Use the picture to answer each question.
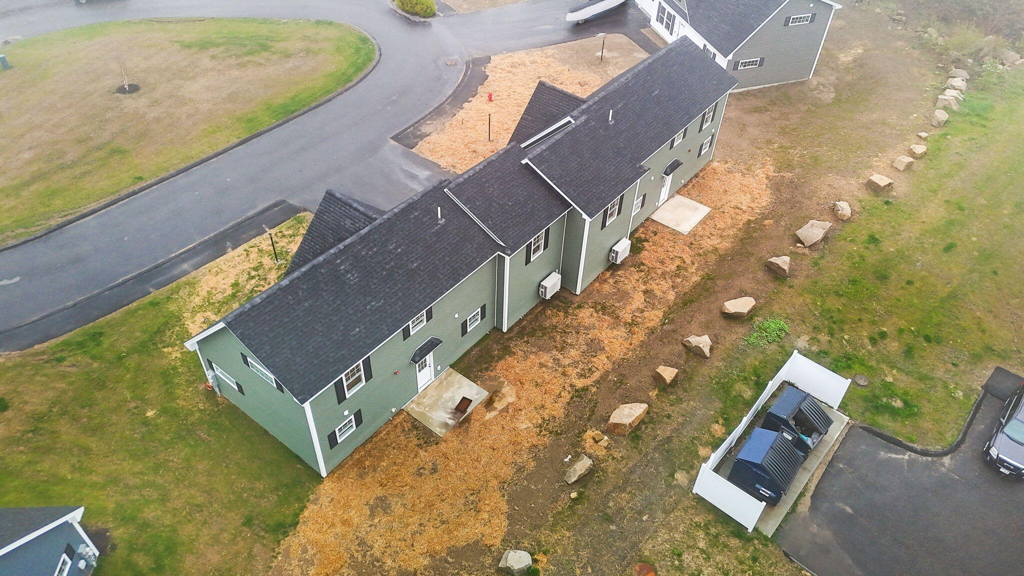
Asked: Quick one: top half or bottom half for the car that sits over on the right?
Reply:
bottom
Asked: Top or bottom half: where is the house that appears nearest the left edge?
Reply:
bottom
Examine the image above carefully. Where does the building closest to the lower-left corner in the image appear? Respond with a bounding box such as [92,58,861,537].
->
[0,505,100,576]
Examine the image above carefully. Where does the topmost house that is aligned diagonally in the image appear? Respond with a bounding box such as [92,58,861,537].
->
[185,37,737,478]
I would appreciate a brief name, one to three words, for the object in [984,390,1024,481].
car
